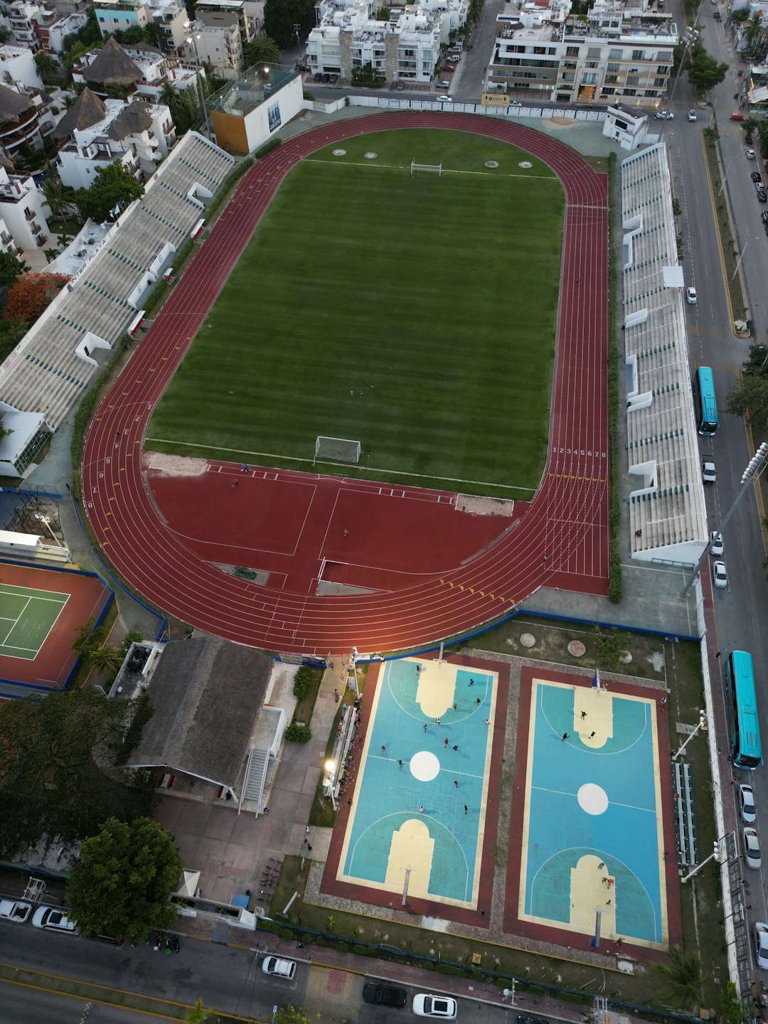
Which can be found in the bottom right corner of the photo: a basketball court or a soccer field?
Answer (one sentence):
The feature located in the bottom right corner of the photo is a basketball court.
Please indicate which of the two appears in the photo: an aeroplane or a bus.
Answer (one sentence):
It is a bus that can be seen here.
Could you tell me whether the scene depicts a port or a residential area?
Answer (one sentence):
The picture captures a residential area.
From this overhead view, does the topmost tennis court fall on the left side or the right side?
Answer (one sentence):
You can find the topmost tennis court on the left side of the picture.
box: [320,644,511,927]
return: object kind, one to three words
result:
basketball court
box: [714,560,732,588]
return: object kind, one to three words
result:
car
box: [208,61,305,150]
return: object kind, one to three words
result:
building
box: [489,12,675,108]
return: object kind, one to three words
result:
building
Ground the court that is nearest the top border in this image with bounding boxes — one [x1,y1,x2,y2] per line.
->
[0,565,106,683]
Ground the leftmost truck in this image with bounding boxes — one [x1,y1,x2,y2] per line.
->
[0,898,35,925]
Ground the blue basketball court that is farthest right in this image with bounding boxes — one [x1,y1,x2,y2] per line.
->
[499,667,684,971]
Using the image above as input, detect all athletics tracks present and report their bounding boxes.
[79,112,610,659]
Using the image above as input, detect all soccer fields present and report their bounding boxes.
[143,128,566,502]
